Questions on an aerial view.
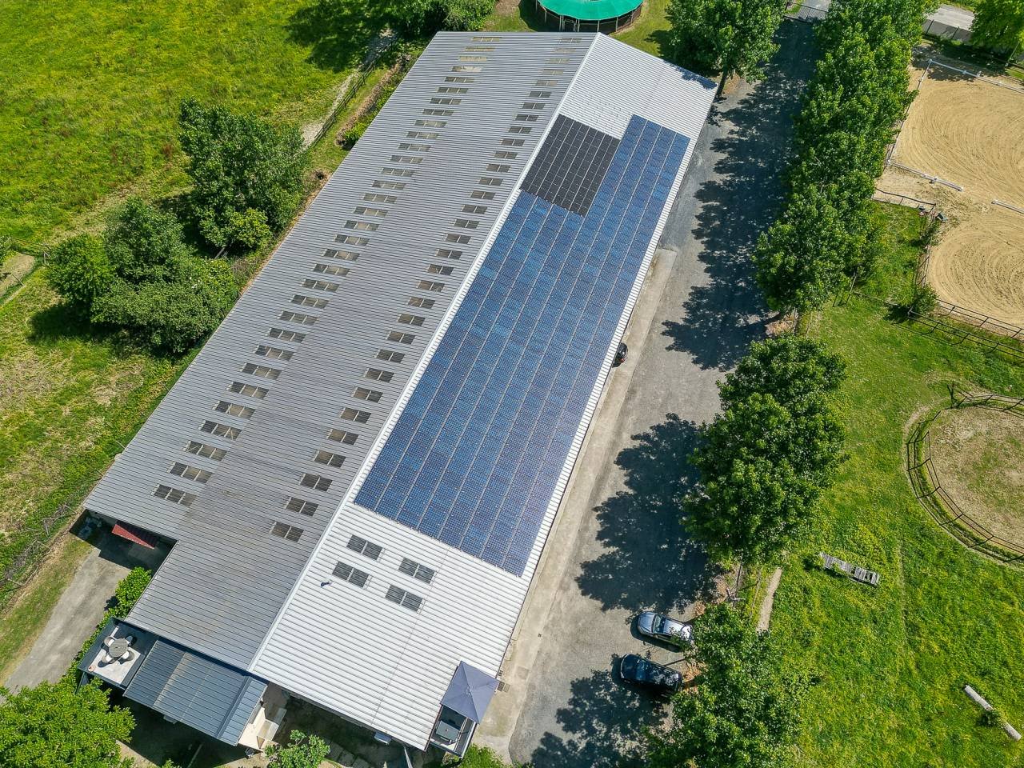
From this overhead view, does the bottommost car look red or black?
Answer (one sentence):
The color of the bottommost car is black.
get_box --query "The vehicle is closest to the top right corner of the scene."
[616,347,635,369]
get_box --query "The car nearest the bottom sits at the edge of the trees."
[618,661,686,703]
